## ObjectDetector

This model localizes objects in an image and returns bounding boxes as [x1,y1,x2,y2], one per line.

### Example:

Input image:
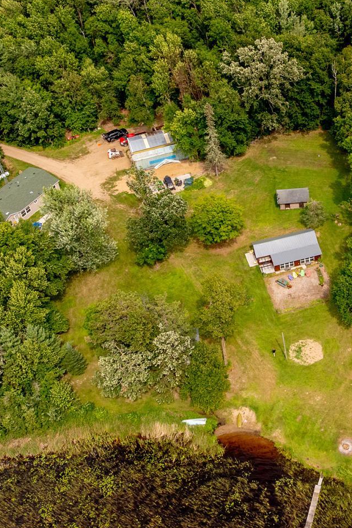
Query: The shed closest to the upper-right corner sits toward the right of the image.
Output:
[276,186,307,211]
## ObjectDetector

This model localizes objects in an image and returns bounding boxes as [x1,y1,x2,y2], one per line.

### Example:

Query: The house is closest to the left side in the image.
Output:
[0,167,58,230]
